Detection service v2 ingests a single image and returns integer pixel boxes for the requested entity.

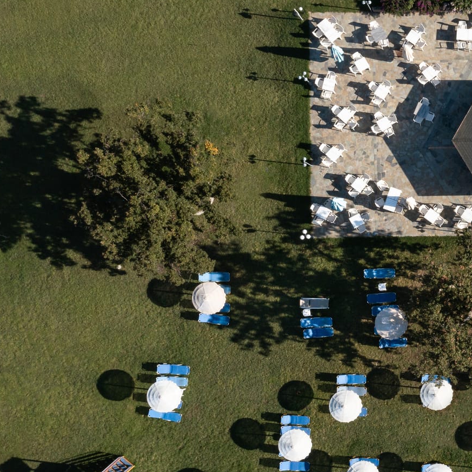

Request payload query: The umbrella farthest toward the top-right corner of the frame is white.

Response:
[402,46,415,66]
